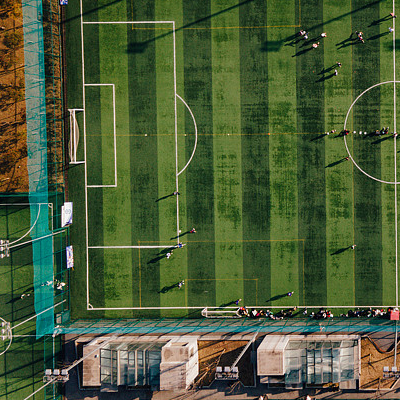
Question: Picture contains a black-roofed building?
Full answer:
No, no black-roofed building can be seen from above.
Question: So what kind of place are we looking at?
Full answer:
This looks like a sports ground.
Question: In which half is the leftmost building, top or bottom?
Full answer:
Seen from above, the leftmost building lies in the bottom half of the view.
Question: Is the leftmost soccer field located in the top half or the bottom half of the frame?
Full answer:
The bottom half of the photo is where the leftmost soccer field is.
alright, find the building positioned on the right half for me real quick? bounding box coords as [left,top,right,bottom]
[258,337,361,391]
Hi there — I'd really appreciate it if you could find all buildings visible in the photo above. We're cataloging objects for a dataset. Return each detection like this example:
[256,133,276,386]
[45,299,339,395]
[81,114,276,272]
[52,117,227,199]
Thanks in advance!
[258,337,361,391]
[83,337,198,395]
